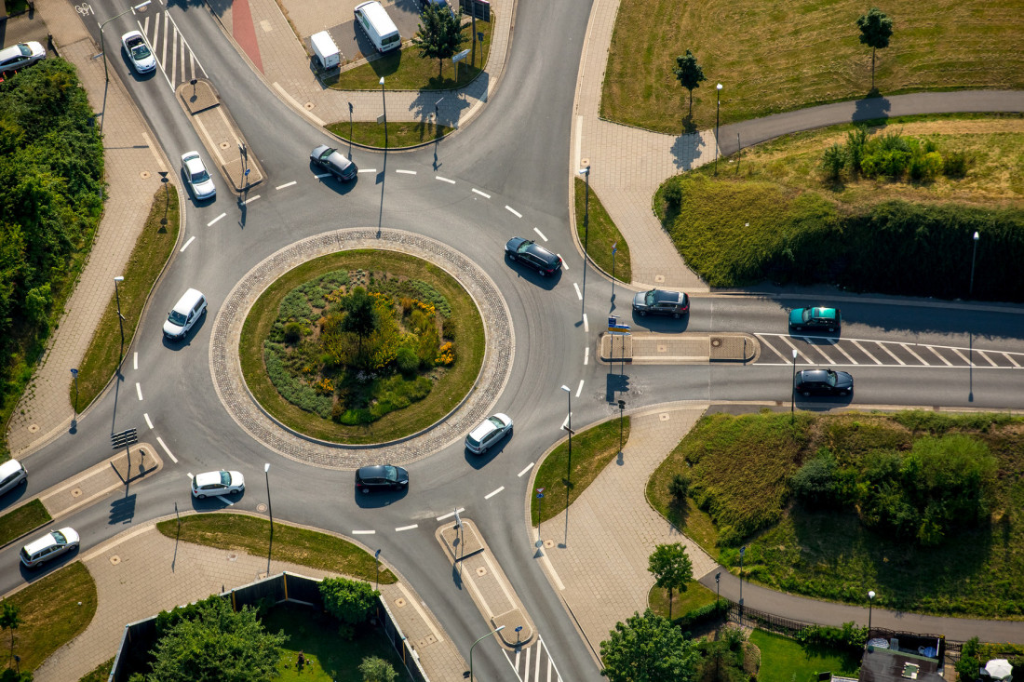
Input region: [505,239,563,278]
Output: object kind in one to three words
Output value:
car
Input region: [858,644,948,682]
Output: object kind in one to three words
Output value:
shed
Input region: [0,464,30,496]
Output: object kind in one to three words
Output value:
car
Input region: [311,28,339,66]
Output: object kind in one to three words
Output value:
trailer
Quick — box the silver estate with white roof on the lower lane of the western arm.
[19,530,80,568]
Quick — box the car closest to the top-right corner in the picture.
[790,308,841,334]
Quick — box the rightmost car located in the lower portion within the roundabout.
[463,417,514,457]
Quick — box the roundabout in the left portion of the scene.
[134,169,589,534]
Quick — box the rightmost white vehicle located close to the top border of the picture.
[353,0,399,50]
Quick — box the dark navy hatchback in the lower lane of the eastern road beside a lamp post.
[796,370,852,397]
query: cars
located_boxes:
[192,471,245,500]
[309,147,359,186]
[180,153,215,201]
[463,417,514,457]
[19,530,80,568]
[505,239,563,278]
[424,0,455,15]
[355,466,408,492]
[0,464,30,496]
[632,290,690,320]
[123,31,154,74]
[0,47,42,80]
[790,308,841,334]
[796,370,852,397]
